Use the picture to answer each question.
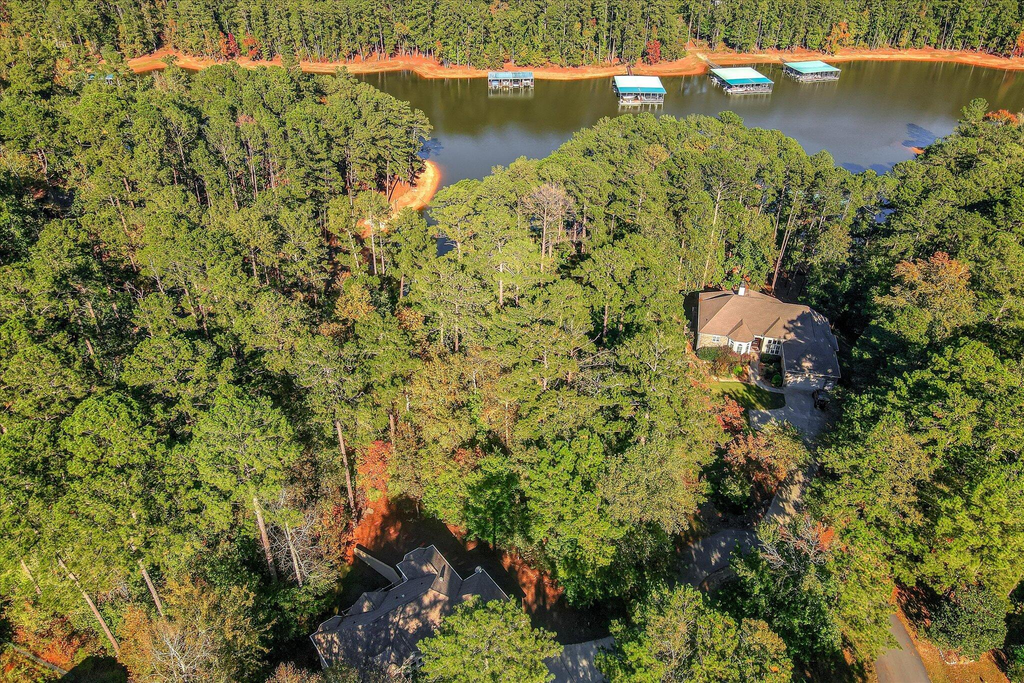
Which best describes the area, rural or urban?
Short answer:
rural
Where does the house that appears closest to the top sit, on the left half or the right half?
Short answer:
right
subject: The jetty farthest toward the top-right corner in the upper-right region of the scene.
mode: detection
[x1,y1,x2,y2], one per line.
[771,56,842,83]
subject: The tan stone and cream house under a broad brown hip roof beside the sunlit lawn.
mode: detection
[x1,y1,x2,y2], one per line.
[697,285,846,395]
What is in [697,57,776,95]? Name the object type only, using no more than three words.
pier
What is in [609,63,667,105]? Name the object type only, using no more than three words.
pier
